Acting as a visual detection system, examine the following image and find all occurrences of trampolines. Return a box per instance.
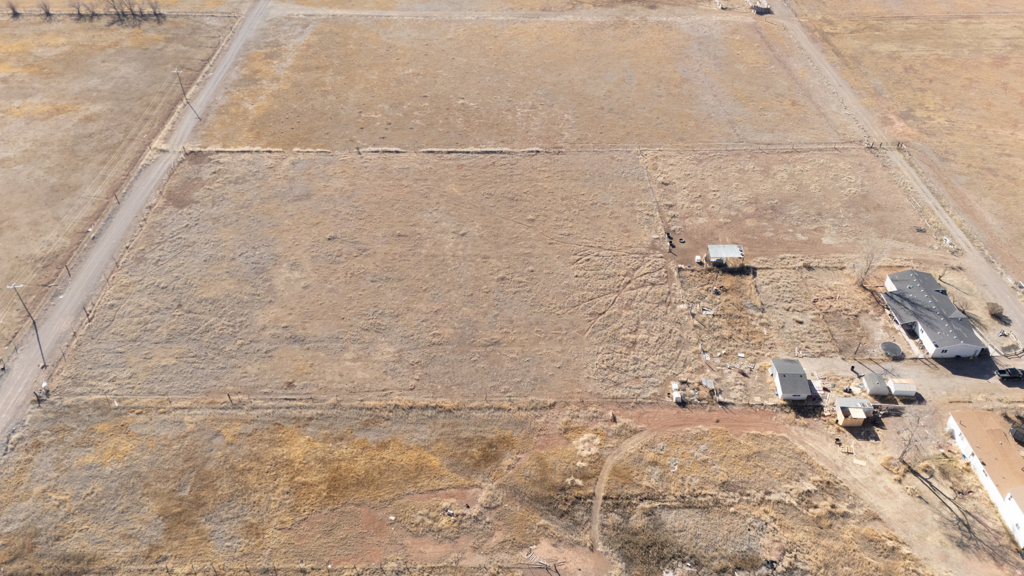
[878,340,903,359]
[1006,419,1024,448]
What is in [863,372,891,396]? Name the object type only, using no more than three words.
shed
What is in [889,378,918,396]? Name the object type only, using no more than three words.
shed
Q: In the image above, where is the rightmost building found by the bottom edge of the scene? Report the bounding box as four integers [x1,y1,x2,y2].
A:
[944,409,1024,551]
